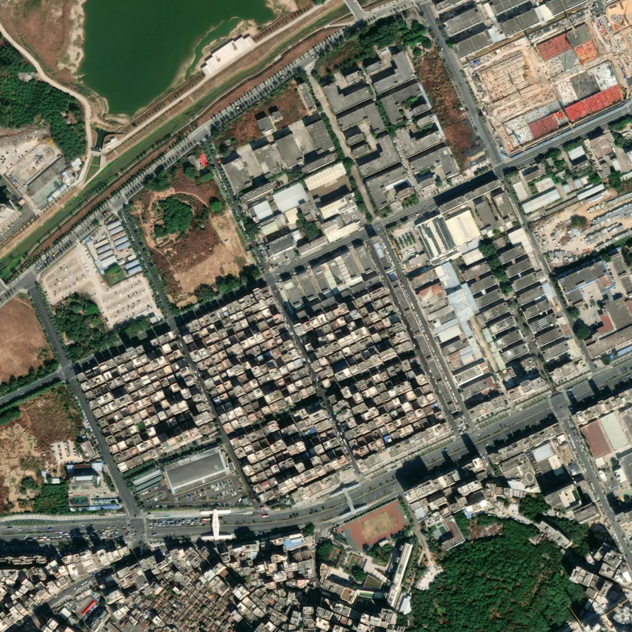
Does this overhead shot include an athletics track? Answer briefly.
Yes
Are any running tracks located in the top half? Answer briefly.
No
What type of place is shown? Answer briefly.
residential area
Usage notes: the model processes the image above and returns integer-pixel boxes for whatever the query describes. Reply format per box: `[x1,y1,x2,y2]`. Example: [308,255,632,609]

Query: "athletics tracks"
[337,501,410,550]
